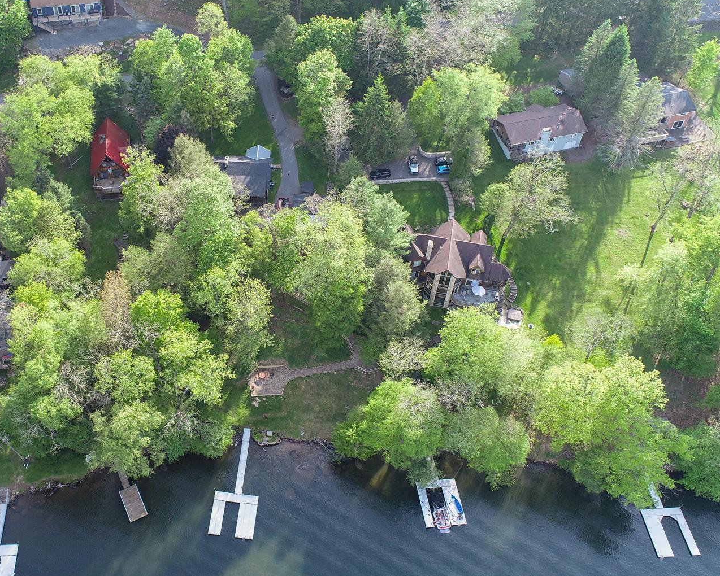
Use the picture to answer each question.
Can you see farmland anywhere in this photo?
No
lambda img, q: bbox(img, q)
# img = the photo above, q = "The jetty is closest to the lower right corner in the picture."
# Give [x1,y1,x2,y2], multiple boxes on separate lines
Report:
[637,483,704,560]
